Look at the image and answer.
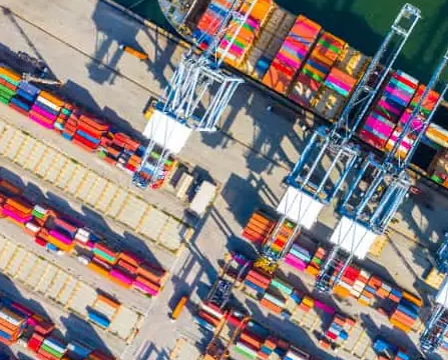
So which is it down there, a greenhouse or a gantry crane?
gantry crane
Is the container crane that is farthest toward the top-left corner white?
Yes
